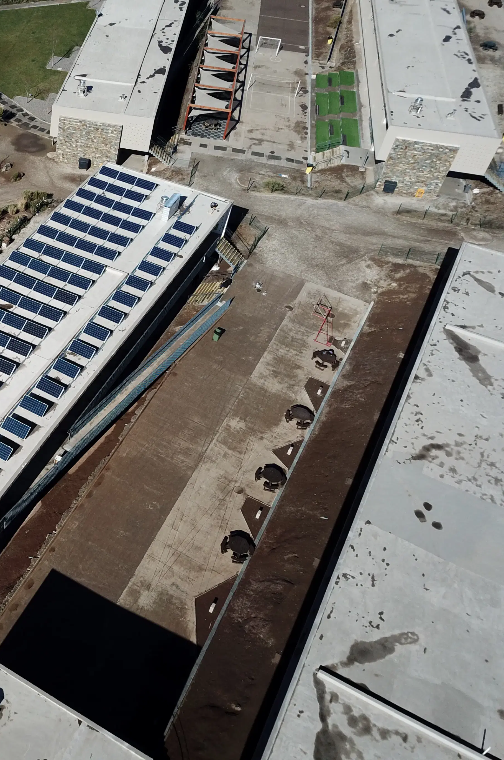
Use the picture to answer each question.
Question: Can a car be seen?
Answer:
No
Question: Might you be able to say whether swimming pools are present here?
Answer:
No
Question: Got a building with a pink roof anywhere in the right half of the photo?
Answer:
No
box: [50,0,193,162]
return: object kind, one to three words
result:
building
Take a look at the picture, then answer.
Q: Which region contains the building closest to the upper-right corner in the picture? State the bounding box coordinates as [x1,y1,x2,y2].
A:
[356,0,503,192]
